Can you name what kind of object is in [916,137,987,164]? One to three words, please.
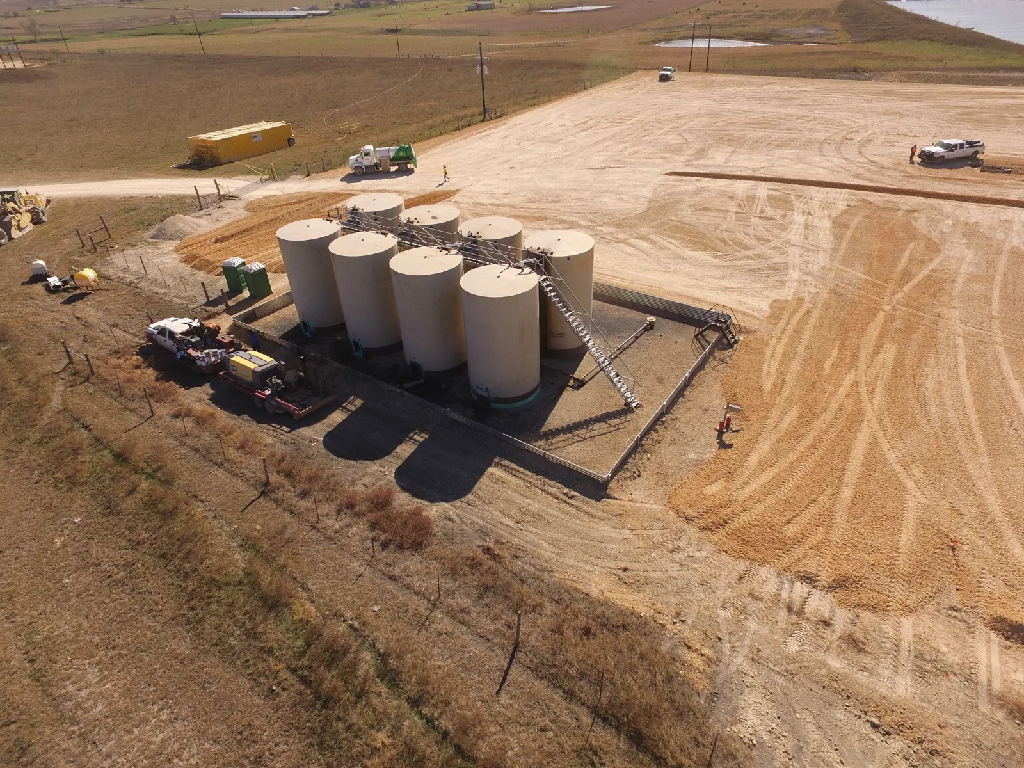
truck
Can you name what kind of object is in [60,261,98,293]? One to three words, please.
storage tank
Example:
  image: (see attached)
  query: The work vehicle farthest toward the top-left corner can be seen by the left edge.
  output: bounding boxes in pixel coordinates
[0,191,53,250]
